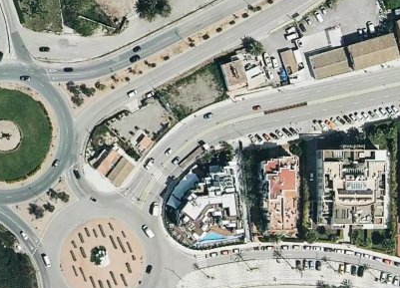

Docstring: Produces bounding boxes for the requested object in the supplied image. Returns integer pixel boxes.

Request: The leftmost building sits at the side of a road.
[89,143,137,189]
